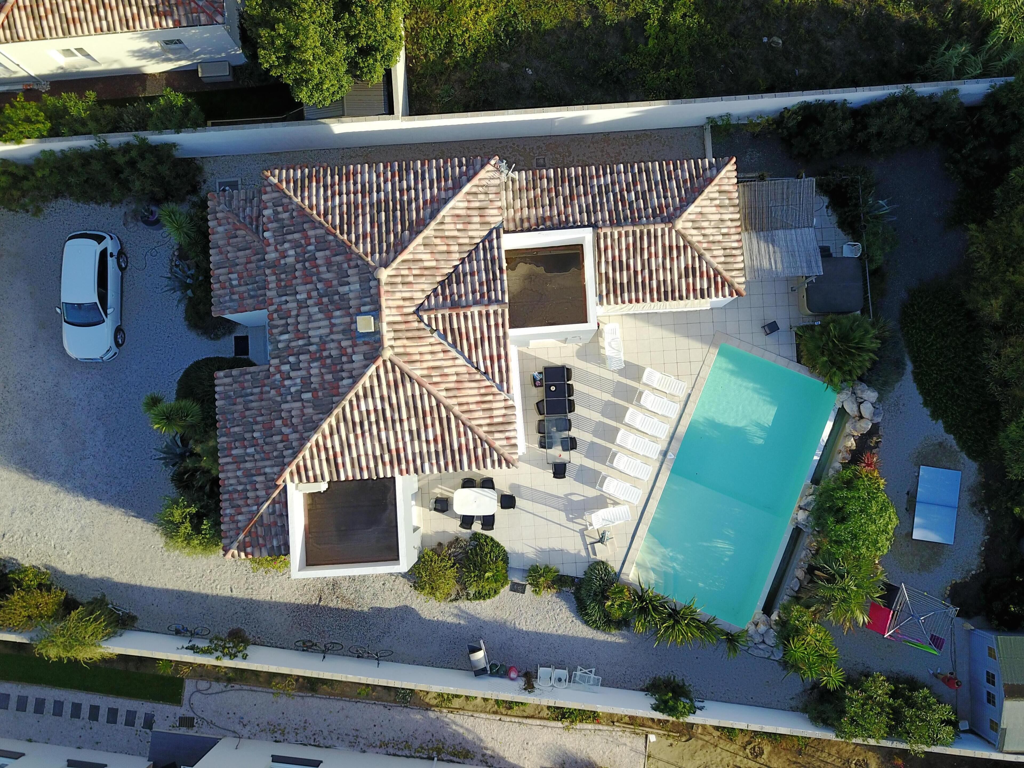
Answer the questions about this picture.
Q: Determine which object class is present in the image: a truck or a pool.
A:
pool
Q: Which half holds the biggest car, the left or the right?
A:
left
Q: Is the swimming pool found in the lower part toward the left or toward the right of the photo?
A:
right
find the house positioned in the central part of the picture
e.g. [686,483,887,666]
[206,151,751,578]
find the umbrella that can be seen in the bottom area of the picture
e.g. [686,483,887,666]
[586,527,617,559]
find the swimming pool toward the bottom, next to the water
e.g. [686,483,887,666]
[616,330,859,644]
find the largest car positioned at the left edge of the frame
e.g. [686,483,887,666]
[49,230,124,359]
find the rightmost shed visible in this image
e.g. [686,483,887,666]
[971,627,1024,756]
